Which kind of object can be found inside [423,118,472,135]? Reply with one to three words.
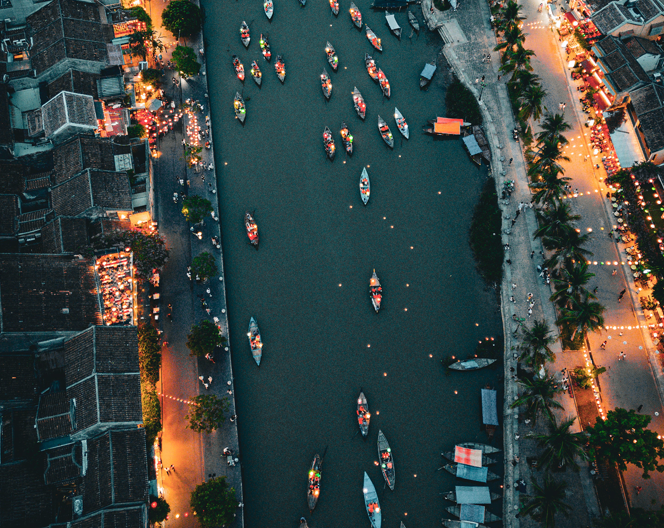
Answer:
boat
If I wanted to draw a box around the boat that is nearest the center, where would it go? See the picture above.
[370,264,387,313]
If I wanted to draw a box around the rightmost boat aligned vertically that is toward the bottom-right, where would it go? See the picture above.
[481,381,499,449]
